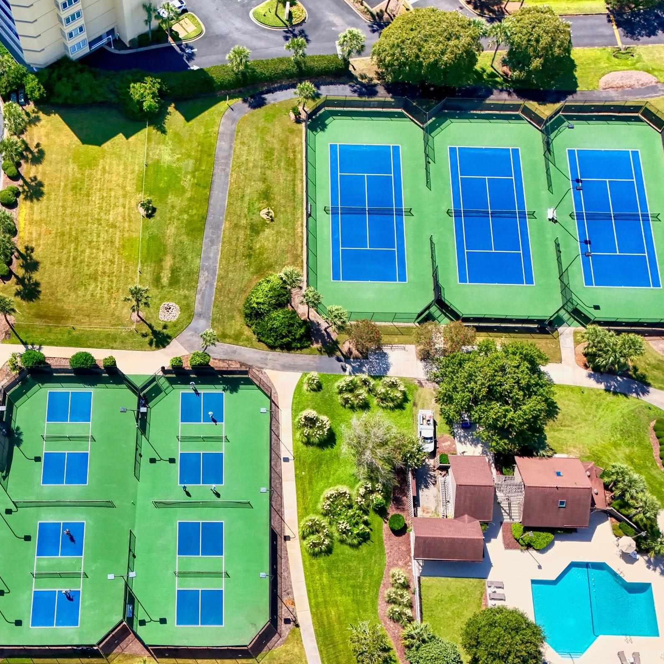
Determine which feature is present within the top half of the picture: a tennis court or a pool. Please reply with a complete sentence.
Visible within the top half of the picture is a tennis court.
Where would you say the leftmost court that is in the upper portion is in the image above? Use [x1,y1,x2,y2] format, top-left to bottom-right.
[307,109,438,323]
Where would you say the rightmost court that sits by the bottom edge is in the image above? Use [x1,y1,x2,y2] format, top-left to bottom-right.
[123,501,270,647]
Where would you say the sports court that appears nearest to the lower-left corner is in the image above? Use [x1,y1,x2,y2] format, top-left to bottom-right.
[0,501,133,646]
